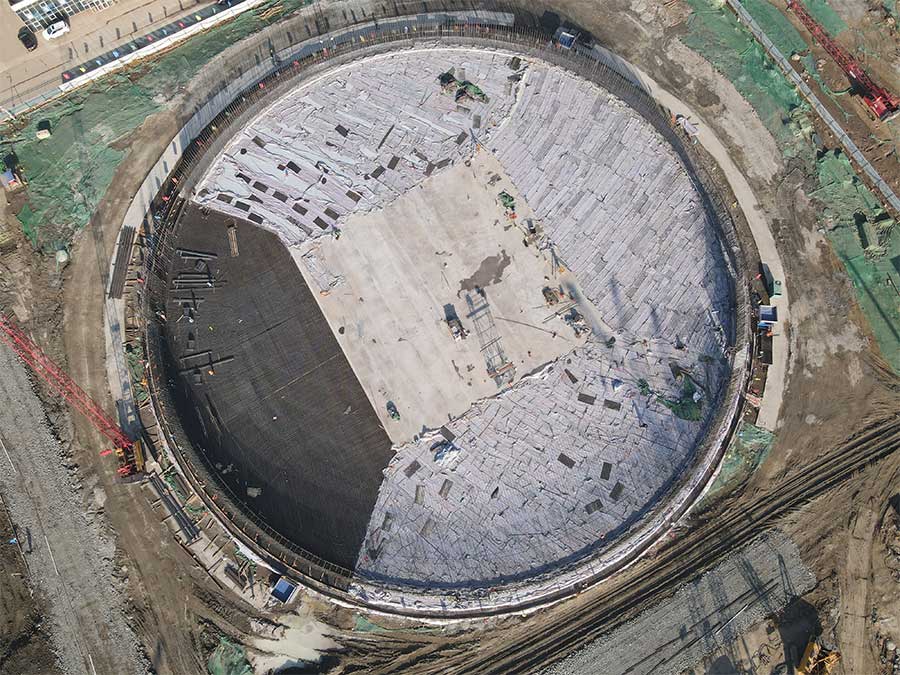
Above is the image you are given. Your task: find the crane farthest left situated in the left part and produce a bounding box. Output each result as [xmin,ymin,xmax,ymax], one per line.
[0,320,149,485]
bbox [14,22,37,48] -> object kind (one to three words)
car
